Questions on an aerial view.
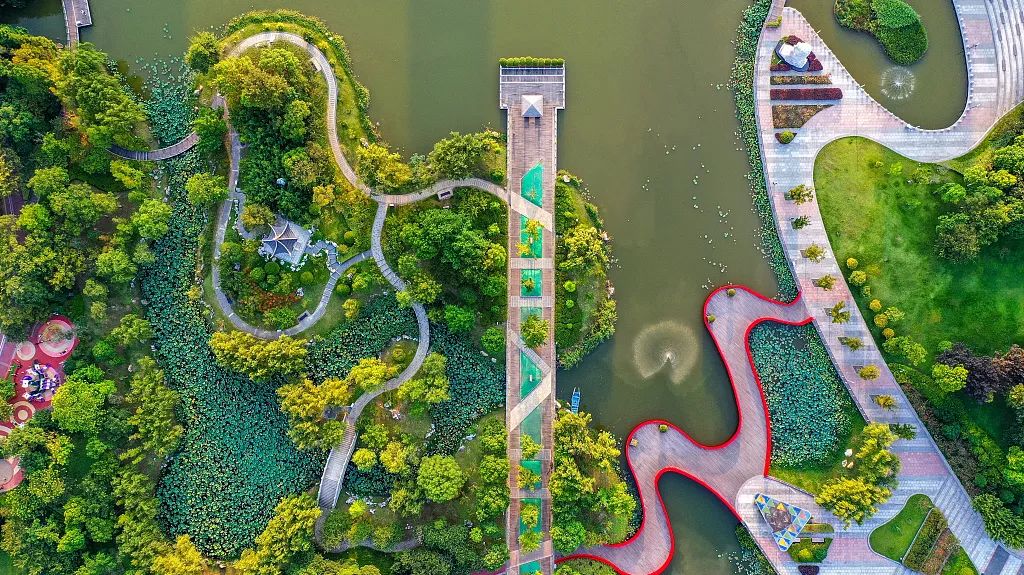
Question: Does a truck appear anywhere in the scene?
No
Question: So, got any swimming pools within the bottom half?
Yes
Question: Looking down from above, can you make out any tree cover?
Yes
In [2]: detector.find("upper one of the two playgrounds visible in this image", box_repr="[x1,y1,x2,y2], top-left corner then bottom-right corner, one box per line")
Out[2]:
[0,314,81,442]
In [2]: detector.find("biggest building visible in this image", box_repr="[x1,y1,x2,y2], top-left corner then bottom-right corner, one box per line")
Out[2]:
[256,215,311,265]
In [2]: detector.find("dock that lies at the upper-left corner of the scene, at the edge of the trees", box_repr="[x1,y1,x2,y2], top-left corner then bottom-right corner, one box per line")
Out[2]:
[61,0,93,47]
